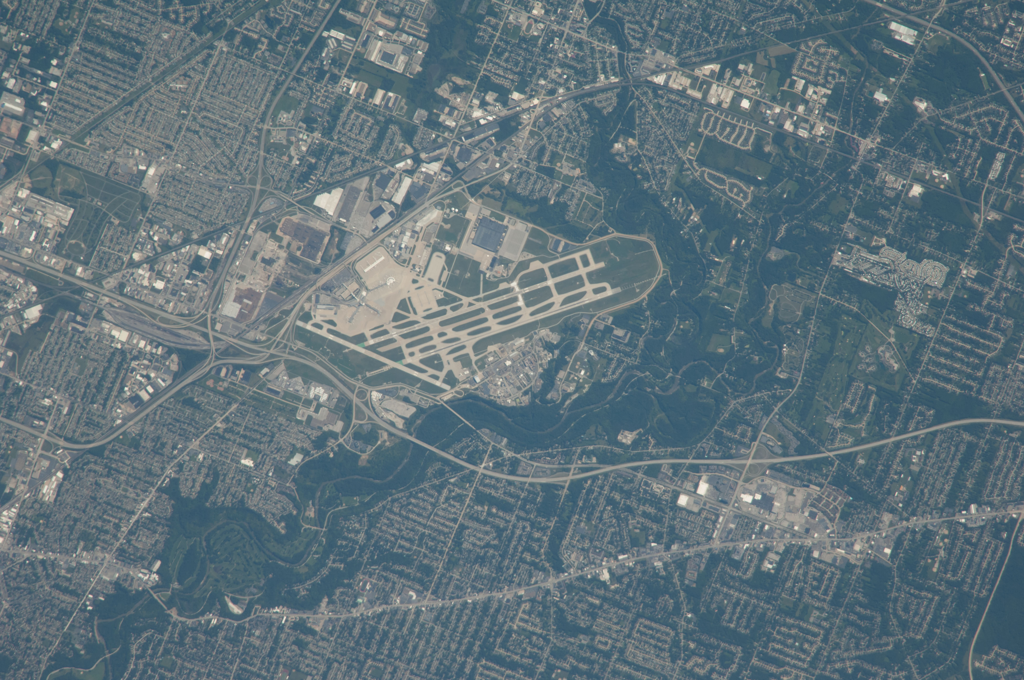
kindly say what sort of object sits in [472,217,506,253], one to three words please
building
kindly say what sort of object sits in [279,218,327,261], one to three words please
building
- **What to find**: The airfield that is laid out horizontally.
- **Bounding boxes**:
[295,221,663,390]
